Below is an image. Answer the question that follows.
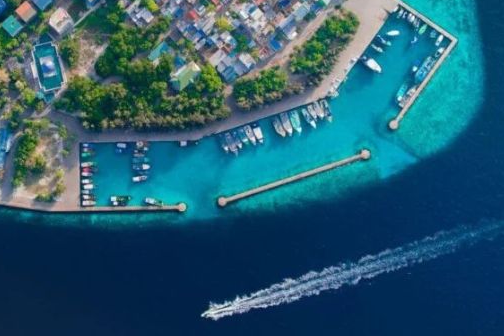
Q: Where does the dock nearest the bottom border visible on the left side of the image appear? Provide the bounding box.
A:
[79,200,189,215]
